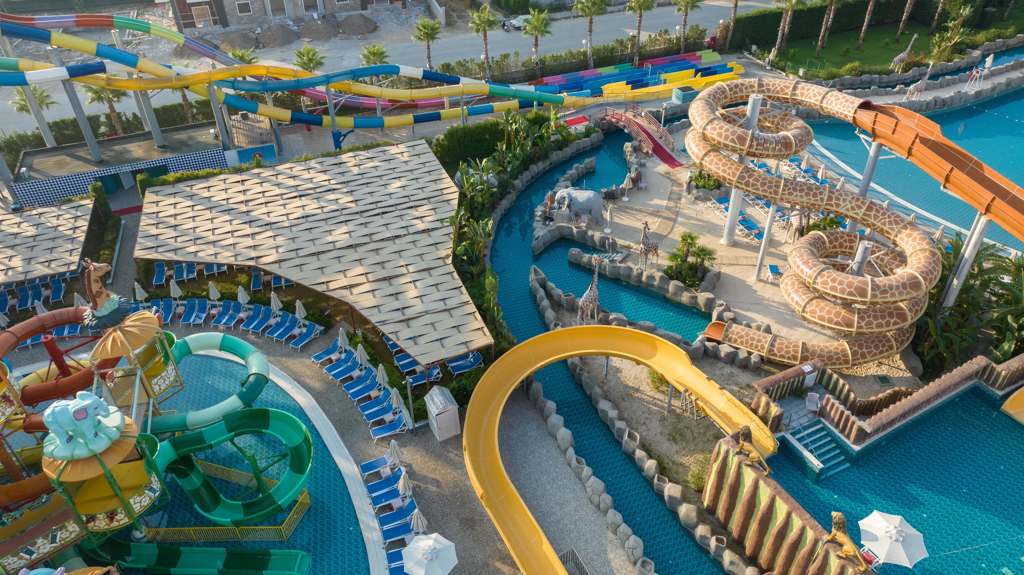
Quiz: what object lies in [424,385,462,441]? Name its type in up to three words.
shed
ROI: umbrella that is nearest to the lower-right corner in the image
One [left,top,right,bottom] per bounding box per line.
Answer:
[852,509,932,574]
